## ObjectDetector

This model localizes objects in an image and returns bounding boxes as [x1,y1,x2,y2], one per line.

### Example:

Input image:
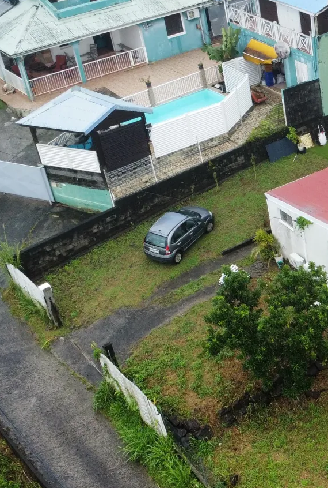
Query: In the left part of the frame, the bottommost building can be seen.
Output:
[15,85,152,170]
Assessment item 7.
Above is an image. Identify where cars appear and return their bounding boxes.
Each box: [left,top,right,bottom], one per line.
[132,207,209,263]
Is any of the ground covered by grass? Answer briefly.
Yes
